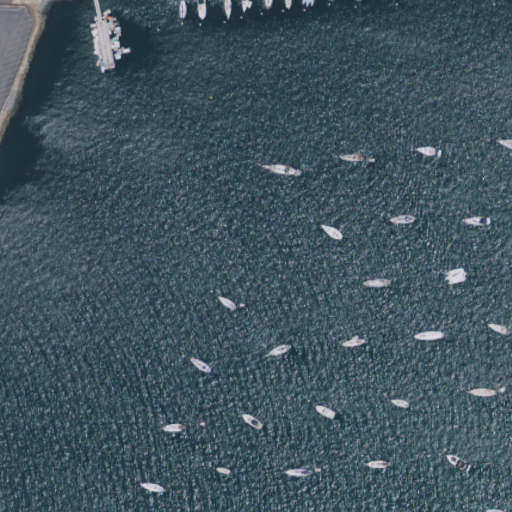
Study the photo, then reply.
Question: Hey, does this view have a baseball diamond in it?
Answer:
No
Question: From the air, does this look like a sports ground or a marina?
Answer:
marina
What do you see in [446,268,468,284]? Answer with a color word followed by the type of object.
white boat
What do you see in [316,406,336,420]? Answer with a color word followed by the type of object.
white boat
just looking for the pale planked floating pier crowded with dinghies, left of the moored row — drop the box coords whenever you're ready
[96,0,116,70]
